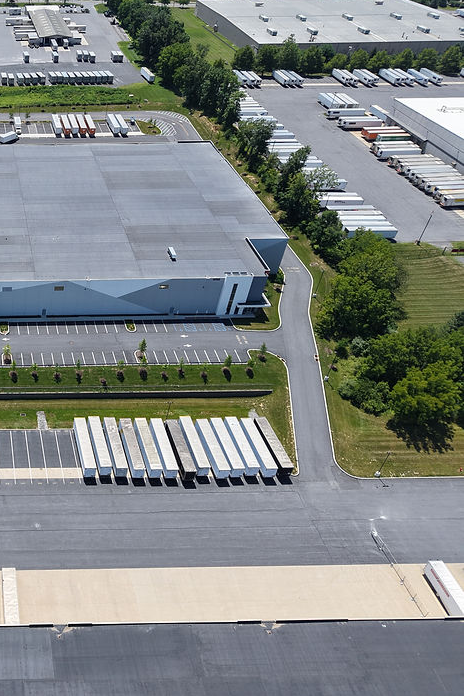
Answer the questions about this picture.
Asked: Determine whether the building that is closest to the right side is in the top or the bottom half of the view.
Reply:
top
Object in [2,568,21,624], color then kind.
white trailer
